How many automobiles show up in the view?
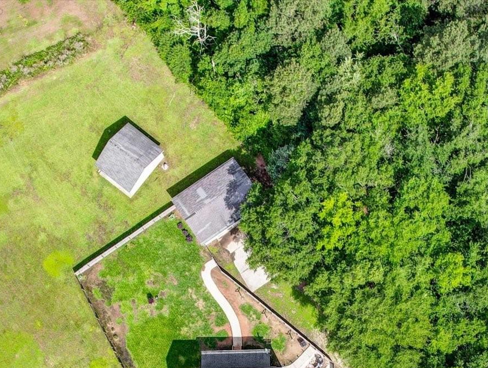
0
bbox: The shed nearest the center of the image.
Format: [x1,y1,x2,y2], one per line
[173,160,259,247]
